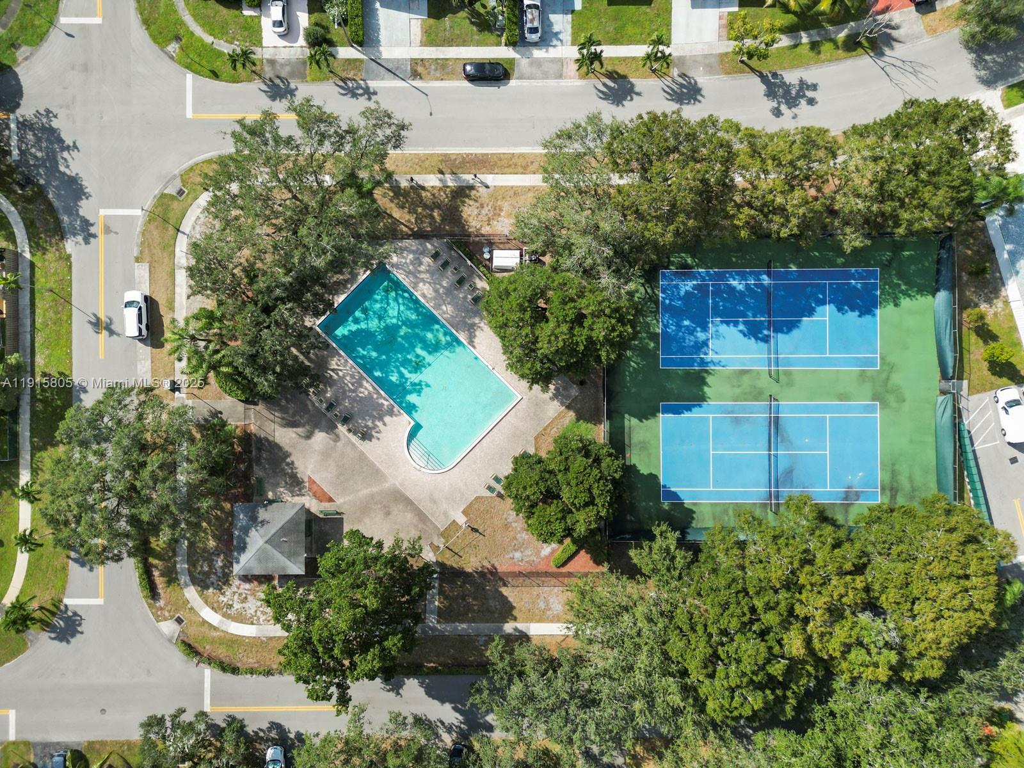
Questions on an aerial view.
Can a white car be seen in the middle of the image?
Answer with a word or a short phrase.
No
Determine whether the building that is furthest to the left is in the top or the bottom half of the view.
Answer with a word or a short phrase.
bottom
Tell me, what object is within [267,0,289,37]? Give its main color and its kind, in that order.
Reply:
white car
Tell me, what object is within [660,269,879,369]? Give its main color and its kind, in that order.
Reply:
blue tennis court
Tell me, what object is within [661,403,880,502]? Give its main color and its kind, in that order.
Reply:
blue tennis court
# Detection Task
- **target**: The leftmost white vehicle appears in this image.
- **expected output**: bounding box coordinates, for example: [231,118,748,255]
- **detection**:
[120,290,146,337]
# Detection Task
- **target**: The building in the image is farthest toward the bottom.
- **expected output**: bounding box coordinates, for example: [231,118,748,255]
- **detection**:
[233,501,310,575]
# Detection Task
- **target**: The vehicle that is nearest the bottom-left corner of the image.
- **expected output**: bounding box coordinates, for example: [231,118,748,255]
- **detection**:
[52,744,77,768]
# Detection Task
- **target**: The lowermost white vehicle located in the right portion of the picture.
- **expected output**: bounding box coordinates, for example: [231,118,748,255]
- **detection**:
[993,388,1024,445]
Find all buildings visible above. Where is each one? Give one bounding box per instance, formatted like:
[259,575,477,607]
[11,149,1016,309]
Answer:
[979,208,1024,367]
[233,501,310,575]
[495,254,523,277]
